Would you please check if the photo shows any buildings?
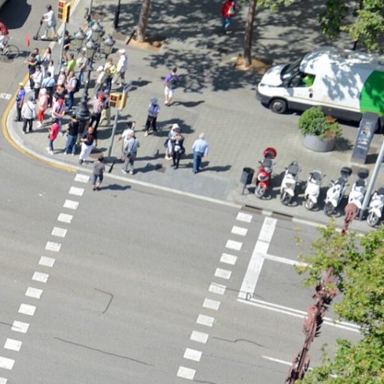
No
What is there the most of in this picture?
paved ground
